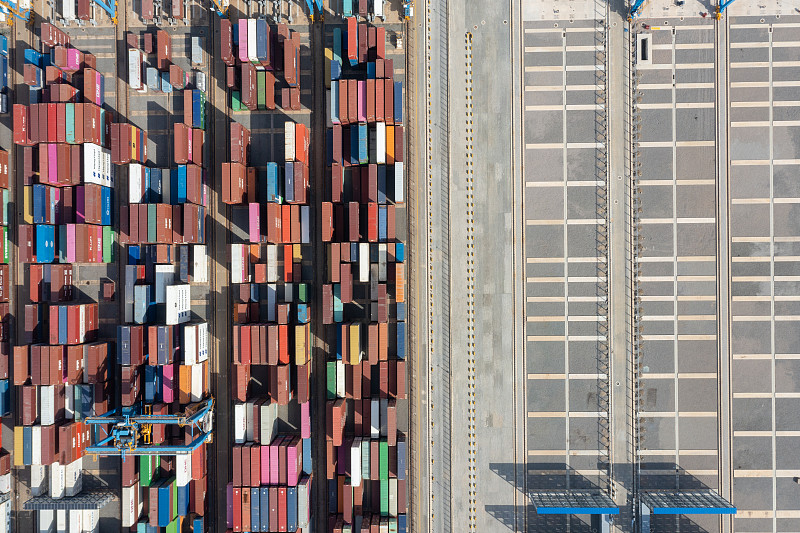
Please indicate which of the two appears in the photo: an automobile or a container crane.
container crane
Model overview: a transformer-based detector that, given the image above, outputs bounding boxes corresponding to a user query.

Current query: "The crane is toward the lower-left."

[84,392,219,455]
